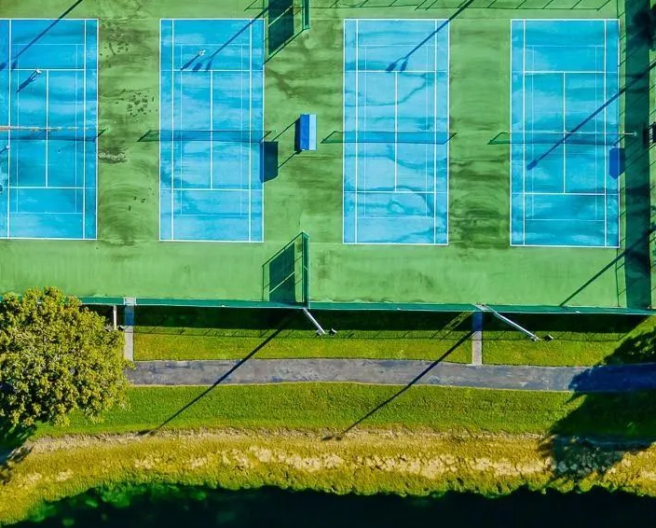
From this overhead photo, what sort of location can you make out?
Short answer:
sports ground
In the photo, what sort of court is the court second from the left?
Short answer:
tennis court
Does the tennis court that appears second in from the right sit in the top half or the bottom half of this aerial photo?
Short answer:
top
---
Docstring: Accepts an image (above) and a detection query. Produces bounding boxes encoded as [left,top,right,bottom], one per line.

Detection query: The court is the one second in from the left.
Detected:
[159,19,265,243]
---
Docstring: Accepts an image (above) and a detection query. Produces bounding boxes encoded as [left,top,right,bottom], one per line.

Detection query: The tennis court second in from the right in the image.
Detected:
[344,19,450,245]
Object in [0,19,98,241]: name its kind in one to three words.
tennis court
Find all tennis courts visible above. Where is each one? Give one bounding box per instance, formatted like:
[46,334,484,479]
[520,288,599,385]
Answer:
[344,19,450,245]
[511,19,620,248]
[0,19,98,241]
[159,19,265,243]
